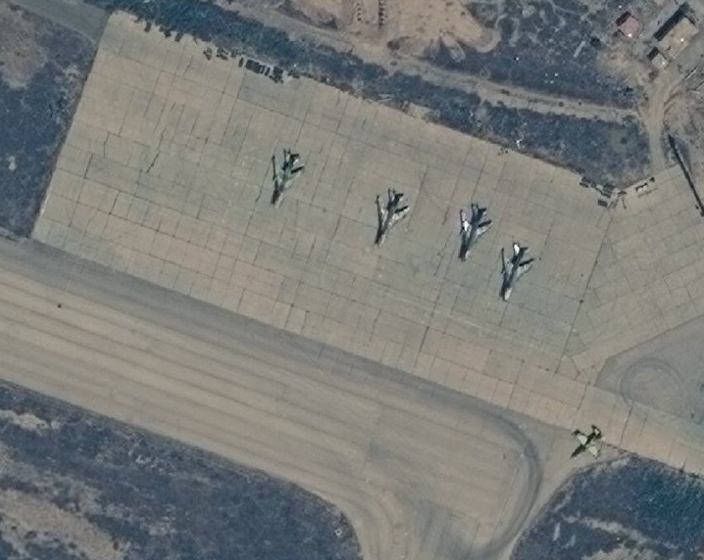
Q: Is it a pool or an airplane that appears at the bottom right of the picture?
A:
airplane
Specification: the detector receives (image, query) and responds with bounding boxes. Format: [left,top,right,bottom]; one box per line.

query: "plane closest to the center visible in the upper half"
[375,188,407,248]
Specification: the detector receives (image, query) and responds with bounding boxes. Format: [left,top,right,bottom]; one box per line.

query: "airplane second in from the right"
[500,242,532,302]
